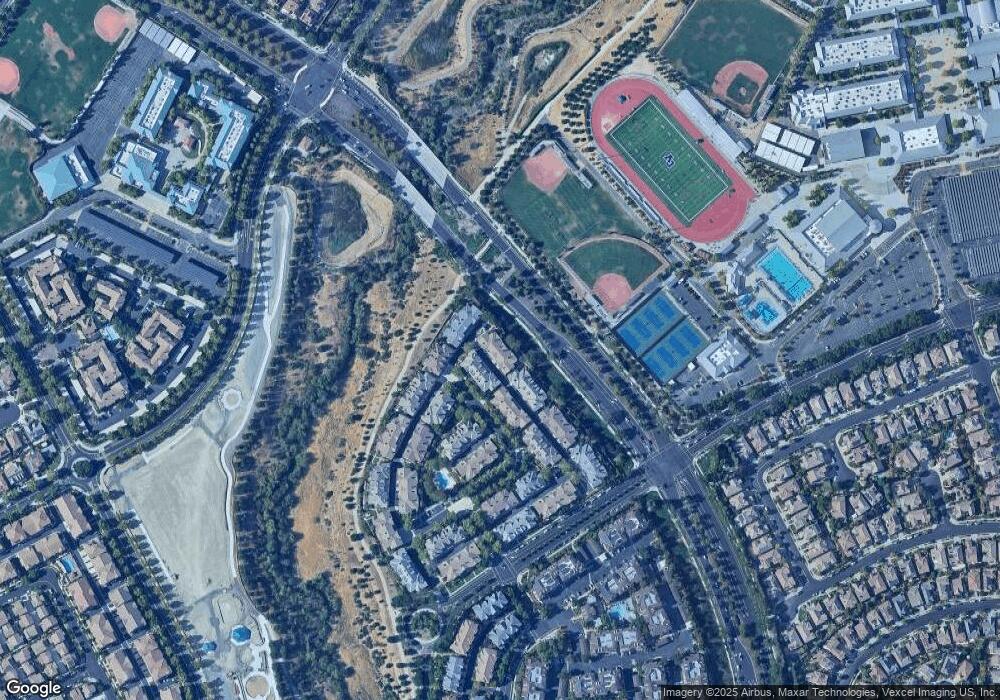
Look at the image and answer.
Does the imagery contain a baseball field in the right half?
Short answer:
Yes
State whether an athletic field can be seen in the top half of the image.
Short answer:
Yes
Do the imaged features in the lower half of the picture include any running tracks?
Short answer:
No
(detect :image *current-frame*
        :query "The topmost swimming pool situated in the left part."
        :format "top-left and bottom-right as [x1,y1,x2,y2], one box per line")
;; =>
[103,324,120,343]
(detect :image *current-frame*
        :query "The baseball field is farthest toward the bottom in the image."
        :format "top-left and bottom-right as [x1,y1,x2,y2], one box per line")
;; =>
[561,233,669,314]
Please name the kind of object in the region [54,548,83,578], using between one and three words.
swimming pool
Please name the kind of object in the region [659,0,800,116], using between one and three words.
baseball field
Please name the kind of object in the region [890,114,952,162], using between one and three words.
building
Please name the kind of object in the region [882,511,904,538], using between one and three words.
house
